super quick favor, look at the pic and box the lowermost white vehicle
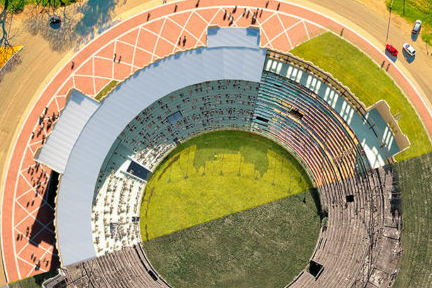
[401,42,415,57]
